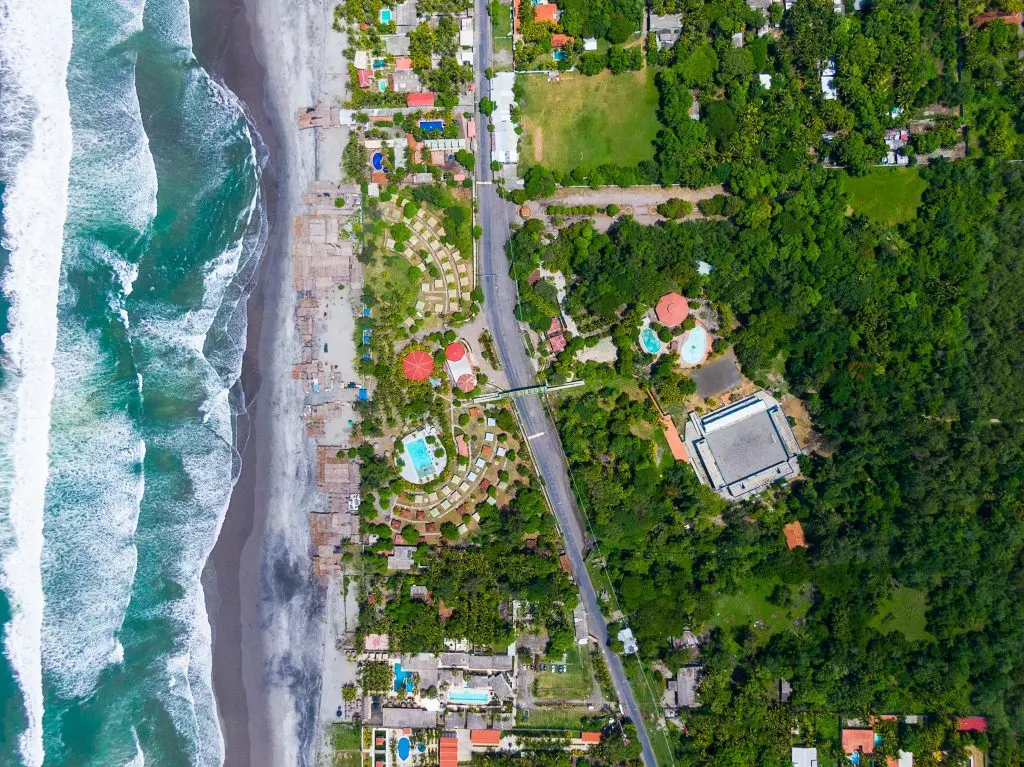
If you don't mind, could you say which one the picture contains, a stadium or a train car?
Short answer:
stadium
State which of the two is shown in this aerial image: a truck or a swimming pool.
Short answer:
swimming pool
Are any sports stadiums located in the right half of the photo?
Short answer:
Yes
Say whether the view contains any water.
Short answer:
Yes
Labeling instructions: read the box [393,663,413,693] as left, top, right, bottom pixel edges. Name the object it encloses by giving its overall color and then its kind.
blue swimming pool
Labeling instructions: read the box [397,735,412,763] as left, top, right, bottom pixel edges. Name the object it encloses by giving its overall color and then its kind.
blue swimming pool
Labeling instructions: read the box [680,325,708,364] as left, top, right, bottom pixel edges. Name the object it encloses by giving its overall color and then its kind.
white swimming pool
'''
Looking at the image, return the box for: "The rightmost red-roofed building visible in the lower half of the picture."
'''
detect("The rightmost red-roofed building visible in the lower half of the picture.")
[954,715,988,731]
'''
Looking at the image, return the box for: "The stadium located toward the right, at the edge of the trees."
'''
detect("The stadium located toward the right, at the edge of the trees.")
[686,391,801,500]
